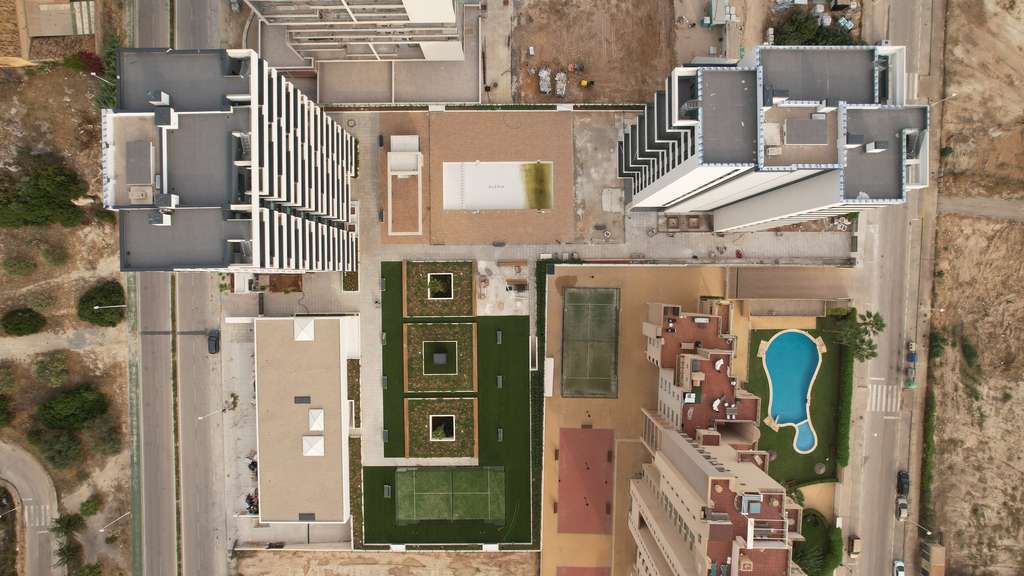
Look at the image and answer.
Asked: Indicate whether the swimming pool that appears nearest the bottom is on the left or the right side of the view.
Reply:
right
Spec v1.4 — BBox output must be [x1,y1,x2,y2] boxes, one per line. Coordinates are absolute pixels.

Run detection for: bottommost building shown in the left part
[254,315,362,524]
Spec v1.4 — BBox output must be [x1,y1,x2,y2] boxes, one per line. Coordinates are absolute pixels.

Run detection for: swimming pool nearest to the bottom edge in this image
[764,330,821,454]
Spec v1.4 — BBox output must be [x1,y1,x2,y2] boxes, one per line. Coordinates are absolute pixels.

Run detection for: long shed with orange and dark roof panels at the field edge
[913,539,946,576]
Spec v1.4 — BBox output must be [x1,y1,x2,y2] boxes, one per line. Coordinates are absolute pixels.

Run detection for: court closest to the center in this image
[561,288,624,402]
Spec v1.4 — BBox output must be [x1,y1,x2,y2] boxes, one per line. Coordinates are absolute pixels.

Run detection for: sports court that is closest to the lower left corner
[394,469,505,526]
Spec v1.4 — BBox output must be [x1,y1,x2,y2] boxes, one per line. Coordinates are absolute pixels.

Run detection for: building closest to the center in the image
[387,136,426,236]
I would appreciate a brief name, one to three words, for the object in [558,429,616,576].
sports court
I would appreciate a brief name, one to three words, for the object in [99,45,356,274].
building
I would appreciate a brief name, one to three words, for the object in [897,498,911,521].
car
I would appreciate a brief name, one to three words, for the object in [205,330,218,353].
vehicle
